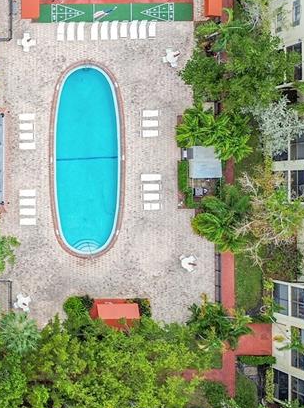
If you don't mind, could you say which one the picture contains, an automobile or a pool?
pool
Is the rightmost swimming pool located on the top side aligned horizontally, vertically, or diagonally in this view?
vertically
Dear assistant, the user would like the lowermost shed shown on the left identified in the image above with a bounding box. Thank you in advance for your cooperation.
[89,300,140,331]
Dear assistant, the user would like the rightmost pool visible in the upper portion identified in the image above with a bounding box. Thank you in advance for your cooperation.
[50,60,125,258]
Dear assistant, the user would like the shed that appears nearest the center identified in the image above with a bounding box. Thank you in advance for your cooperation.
[178,146,222,178]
